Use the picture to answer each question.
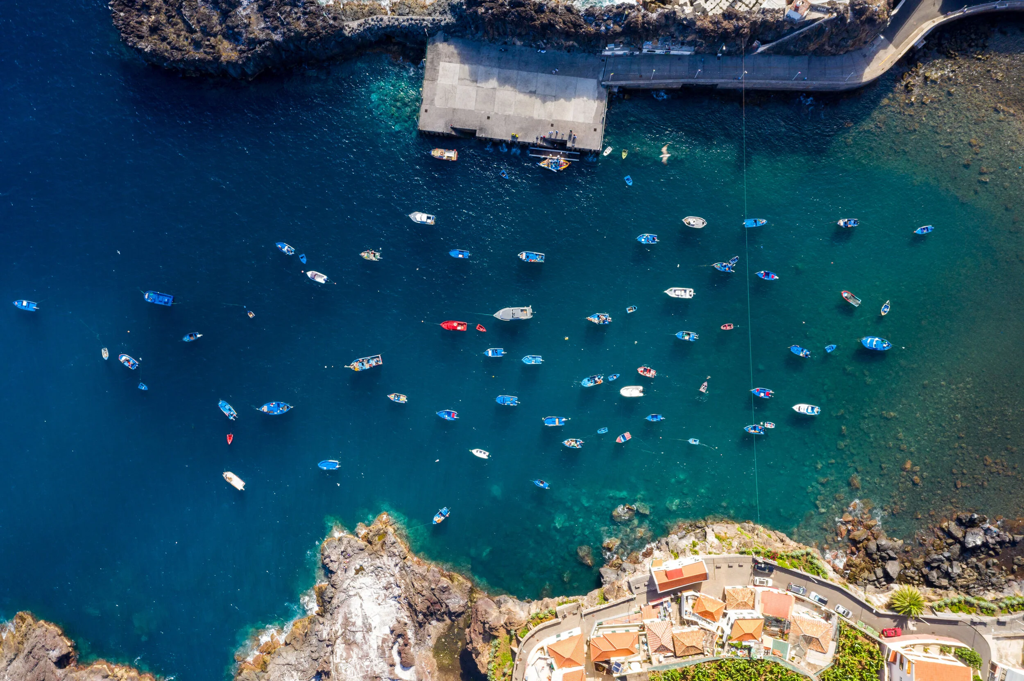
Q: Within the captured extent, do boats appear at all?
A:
Yes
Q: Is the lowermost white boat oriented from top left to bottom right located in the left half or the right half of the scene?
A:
left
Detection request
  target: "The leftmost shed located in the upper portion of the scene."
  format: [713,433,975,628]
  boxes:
[601,45,640,59]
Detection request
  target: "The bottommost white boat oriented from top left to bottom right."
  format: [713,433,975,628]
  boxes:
[222,472,247,492]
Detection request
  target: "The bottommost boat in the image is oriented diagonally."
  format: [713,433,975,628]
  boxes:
[433,508,452,525]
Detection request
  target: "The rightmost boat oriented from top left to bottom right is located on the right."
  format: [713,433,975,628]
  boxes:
[842,290,863,307]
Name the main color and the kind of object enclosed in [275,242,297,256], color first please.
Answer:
blue boat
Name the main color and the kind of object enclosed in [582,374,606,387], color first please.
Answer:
blue boat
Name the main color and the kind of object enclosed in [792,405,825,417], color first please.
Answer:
white boat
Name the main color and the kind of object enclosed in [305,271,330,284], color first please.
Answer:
white boat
